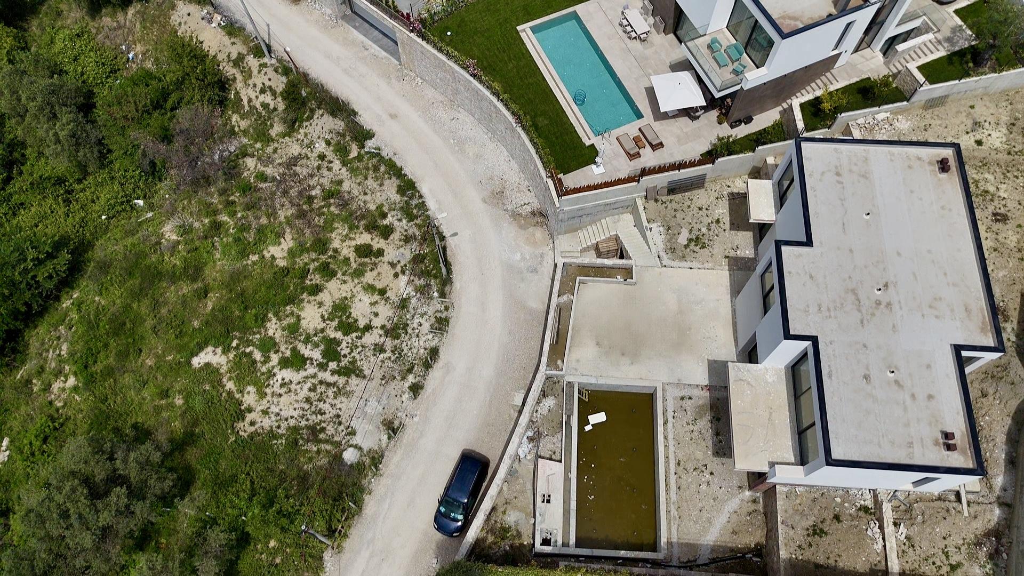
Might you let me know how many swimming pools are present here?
2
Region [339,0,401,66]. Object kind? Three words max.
building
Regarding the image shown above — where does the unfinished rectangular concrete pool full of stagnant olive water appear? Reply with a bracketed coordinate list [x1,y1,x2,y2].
[570,381,667,558]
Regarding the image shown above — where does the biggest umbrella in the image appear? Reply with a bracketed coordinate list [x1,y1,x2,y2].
[651,71,706,121]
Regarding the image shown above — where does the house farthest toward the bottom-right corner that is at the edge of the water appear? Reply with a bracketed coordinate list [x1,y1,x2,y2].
[727,136,1007,492]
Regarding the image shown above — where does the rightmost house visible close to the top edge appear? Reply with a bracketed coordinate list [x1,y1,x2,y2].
[640,0,943,126]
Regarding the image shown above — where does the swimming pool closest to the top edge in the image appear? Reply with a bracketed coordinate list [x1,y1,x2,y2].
[509,3,652,150]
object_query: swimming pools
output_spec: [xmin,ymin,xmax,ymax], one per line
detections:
[570,381,667,558]
[509,3,652,150]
